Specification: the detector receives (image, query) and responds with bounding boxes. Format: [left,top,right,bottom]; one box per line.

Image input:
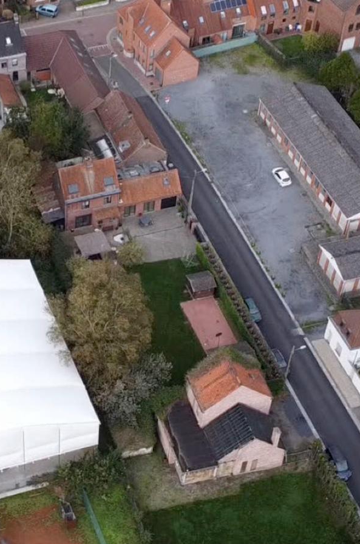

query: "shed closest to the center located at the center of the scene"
[182,269,219,300]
